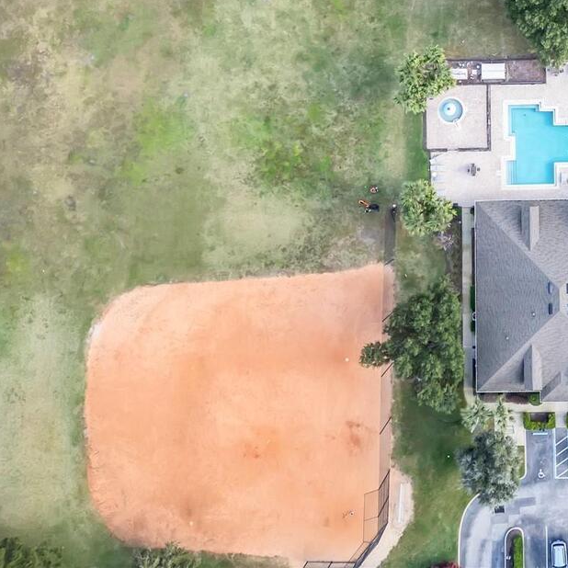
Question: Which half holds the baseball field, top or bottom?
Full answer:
The baseball field is in the bottom half of the image.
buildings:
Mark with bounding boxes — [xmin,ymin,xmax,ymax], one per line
[481,62,506,79]
[474,199,568,402]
